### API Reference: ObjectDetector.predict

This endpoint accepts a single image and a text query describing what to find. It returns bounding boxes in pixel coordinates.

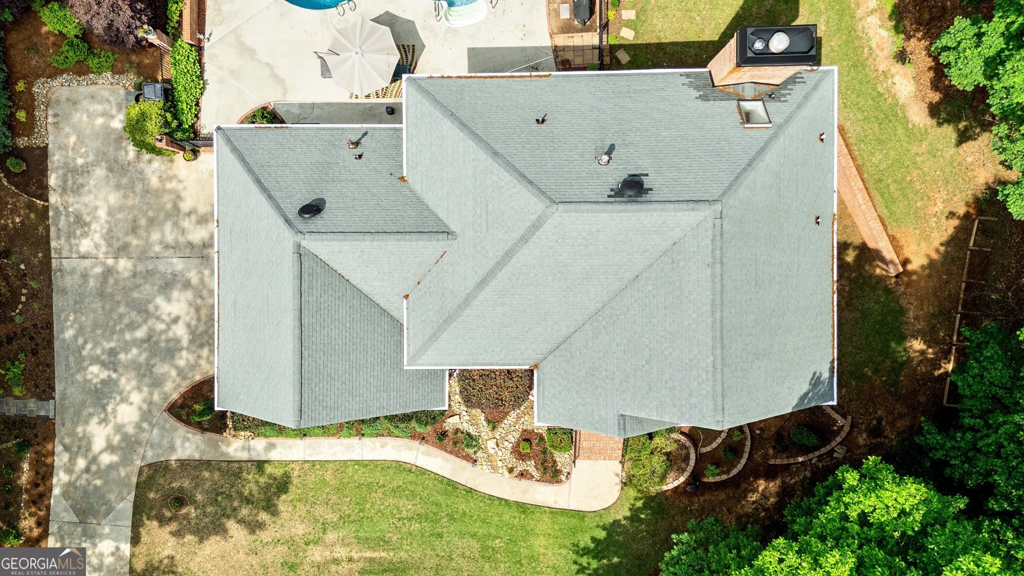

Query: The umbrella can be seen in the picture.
[310,17,400,97]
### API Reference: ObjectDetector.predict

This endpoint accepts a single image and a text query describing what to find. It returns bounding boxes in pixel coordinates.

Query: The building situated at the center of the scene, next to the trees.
[213,25,839,438]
